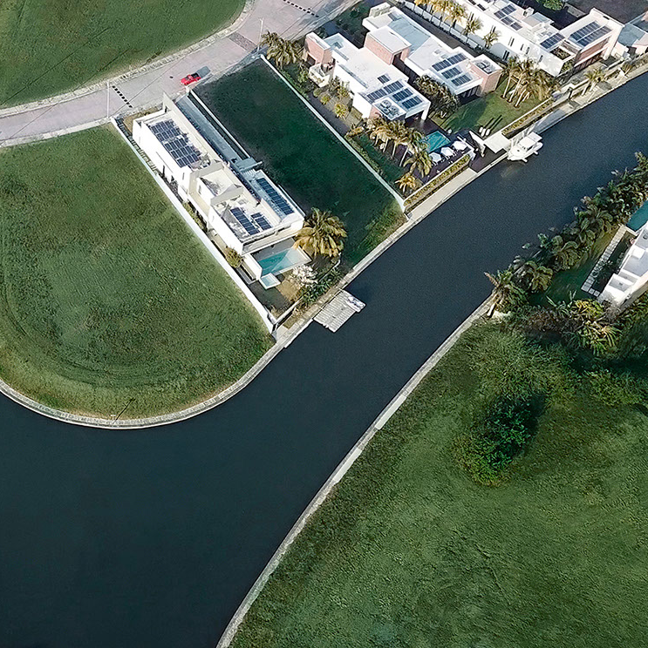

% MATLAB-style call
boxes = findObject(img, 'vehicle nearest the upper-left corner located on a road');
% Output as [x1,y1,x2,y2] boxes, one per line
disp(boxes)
[178,66,204,85]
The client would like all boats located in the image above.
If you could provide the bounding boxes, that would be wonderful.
[346,298,366,314]
[508,122,548,158]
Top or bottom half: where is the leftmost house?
top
